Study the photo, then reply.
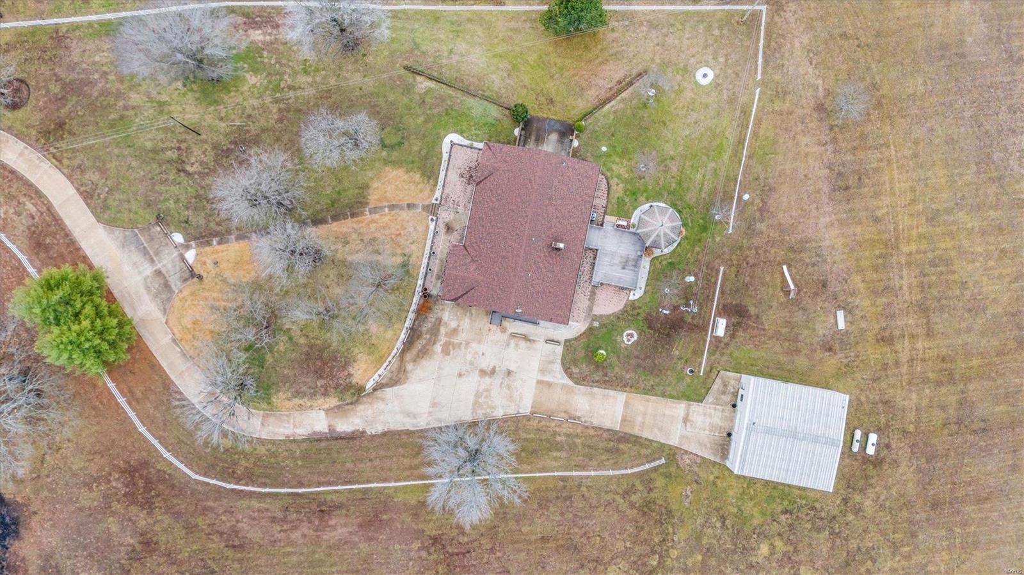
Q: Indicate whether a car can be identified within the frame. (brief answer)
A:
No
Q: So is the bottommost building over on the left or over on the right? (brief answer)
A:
right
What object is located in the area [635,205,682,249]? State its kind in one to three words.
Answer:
gazebo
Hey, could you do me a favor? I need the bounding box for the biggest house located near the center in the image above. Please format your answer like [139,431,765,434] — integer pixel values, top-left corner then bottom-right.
[443,141,601,325]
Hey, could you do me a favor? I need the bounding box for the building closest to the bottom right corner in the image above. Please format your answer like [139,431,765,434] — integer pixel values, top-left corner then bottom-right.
[727,374,852,494]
